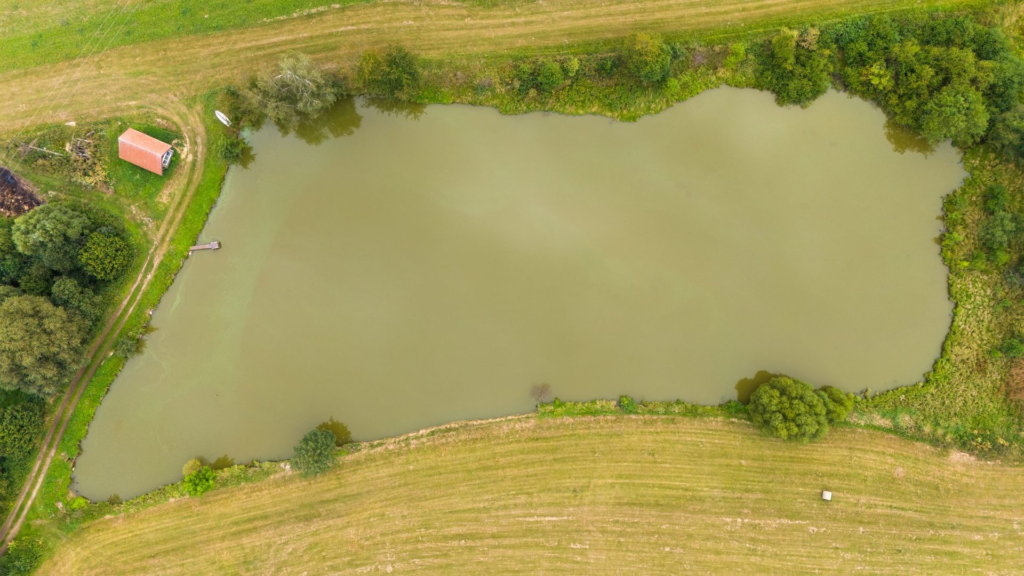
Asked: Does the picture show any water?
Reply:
Yes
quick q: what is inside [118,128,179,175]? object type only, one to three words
shed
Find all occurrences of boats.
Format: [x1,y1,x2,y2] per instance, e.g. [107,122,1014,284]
[214,110,233,128]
